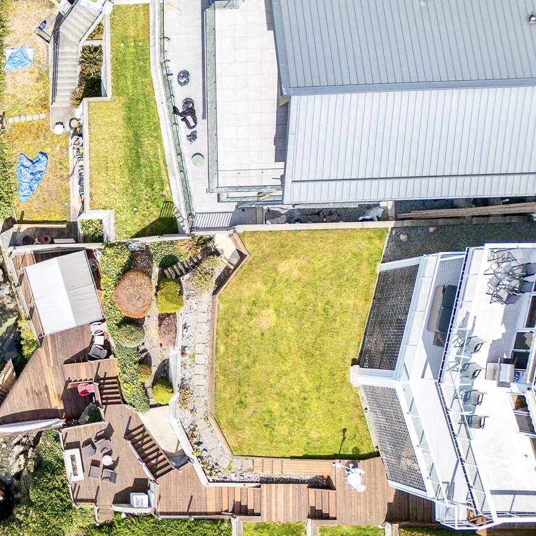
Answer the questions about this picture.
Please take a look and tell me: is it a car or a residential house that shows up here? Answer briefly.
residential house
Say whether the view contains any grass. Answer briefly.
Yes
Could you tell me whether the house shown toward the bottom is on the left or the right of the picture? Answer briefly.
right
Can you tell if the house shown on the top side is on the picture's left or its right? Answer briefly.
right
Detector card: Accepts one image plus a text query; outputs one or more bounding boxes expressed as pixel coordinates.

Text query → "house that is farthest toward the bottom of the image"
[354,243,536,535]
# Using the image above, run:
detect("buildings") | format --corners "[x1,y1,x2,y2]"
[201,0,536,212]
[354,243,536,535]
